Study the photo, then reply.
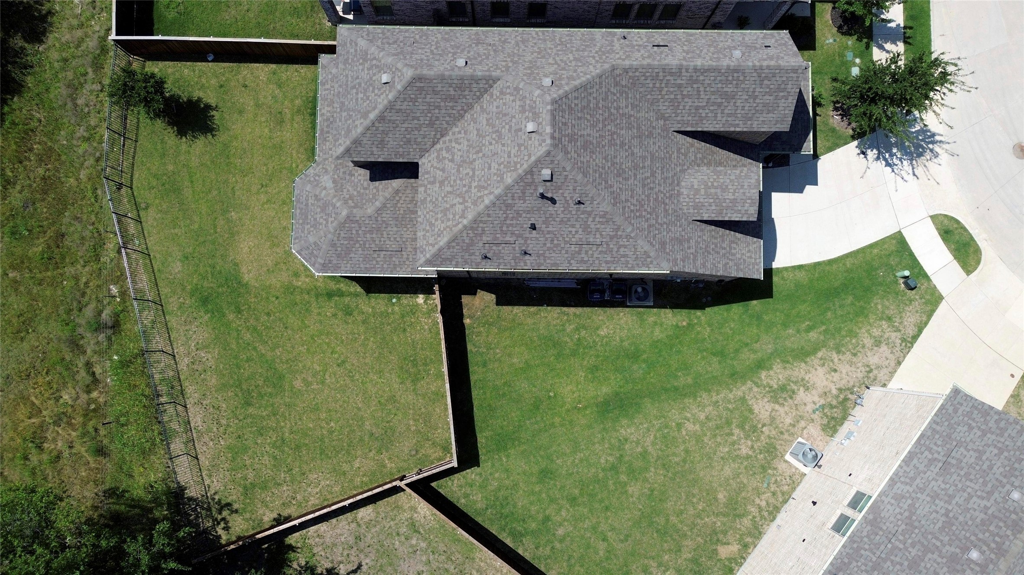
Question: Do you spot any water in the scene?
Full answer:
No, the scene doesn't show any water.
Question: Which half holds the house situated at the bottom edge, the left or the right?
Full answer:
The house situated at the bottom edge sits on the right side.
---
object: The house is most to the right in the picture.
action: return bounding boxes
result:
[734,381,1024,575]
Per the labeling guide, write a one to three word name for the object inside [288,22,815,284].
house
